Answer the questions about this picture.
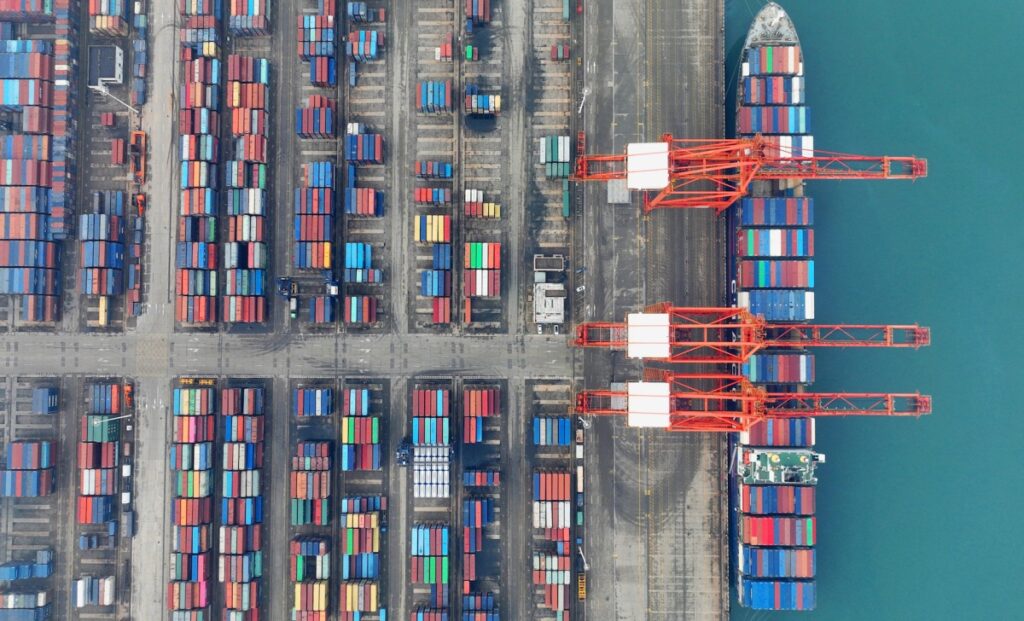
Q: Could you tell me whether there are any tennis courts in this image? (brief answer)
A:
No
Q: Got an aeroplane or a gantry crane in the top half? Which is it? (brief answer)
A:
gantry crane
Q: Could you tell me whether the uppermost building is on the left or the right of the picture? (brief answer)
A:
left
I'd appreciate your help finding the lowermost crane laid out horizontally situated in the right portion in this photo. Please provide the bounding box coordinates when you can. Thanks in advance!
[572,362,930,432]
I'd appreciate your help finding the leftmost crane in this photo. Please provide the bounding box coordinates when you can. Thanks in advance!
[269,271,347,299]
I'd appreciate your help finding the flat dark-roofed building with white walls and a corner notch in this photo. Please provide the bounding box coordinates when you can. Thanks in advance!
[87,44,123,102]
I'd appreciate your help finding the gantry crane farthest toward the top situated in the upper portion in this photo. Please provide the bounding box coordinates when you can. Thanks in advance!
[571,130,925,221]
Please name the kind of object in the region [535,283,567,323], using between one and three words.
building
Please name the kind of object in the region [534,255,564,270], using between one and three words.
building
